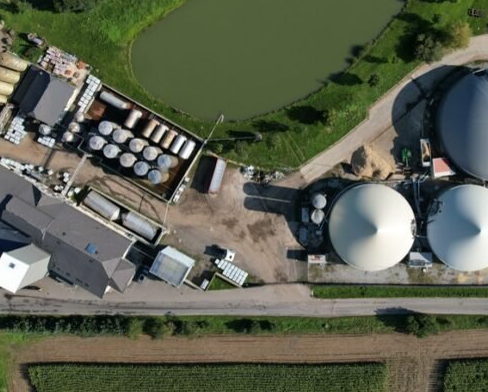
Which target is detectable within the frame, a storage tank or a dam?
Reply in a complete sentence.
Looking from above, you can make out a storage tank.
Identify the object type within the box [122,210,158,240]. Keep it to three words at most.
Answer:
storage tank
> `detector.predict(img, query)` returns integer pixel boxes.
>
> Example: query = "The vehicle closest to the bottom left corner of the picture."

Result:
[135,269,150,284]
